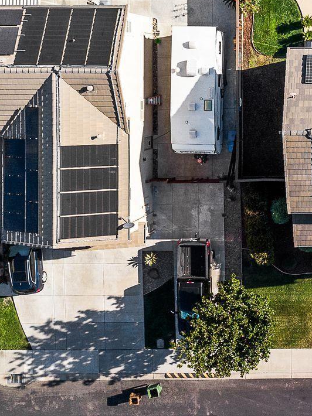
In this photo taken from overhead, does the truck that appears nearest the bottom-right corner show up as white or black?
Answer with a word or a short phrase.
black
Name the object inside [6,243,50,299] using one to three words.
van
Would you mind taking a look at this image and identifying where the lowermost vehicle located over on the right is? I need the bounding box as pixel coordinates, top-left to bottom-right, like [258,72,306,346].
[176,239,215,333]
